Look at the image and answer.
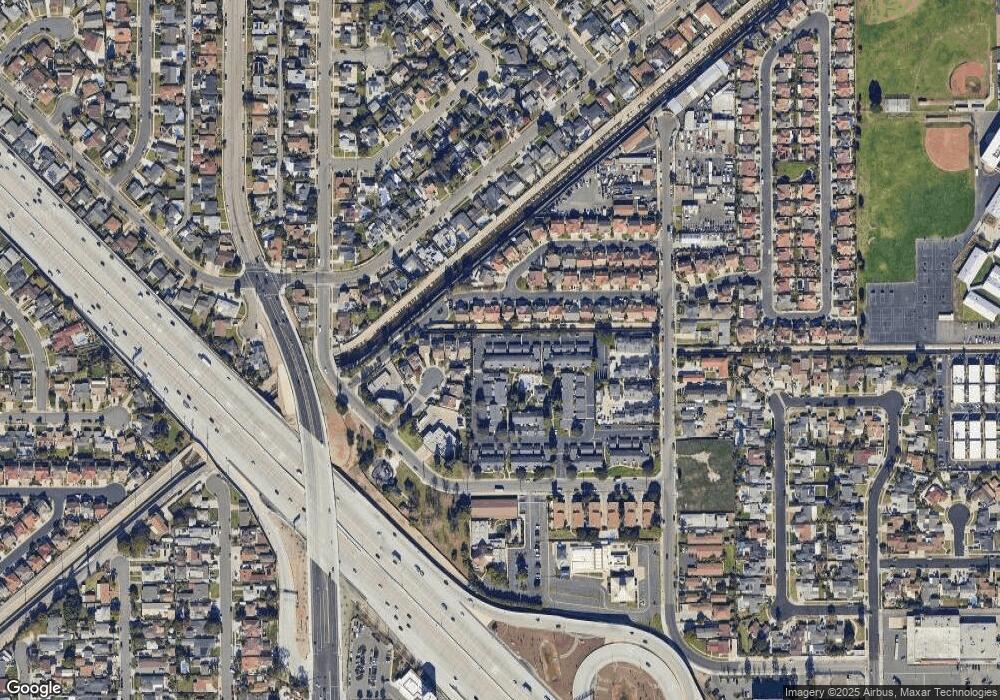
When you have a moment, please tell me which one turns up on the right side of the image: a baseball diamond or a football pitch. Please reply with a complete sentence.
What appears on the right side of the image is a baseball diamond.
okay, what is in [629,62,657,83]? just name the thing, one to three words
house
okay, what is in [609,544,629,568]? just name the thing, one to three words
building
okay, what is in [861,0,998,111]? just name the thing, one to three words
baseball field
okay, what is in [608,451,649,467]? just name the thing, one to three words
building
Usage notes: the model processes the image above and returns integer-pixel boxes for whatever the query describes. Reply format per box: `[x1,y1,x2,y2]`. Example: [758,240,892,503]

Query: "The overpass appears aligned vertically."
[296,402,339,587]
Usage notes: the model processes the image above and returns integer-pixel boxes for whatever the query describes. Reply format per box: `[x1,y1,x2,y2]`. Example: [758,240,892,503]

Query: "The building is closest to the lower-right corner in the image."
[961,625,997,664]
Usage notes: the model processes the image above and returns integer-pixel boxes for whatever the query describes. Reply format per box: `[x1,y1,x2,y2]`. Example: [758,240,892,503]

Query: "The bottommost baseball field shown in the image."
[862,112,976,282]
